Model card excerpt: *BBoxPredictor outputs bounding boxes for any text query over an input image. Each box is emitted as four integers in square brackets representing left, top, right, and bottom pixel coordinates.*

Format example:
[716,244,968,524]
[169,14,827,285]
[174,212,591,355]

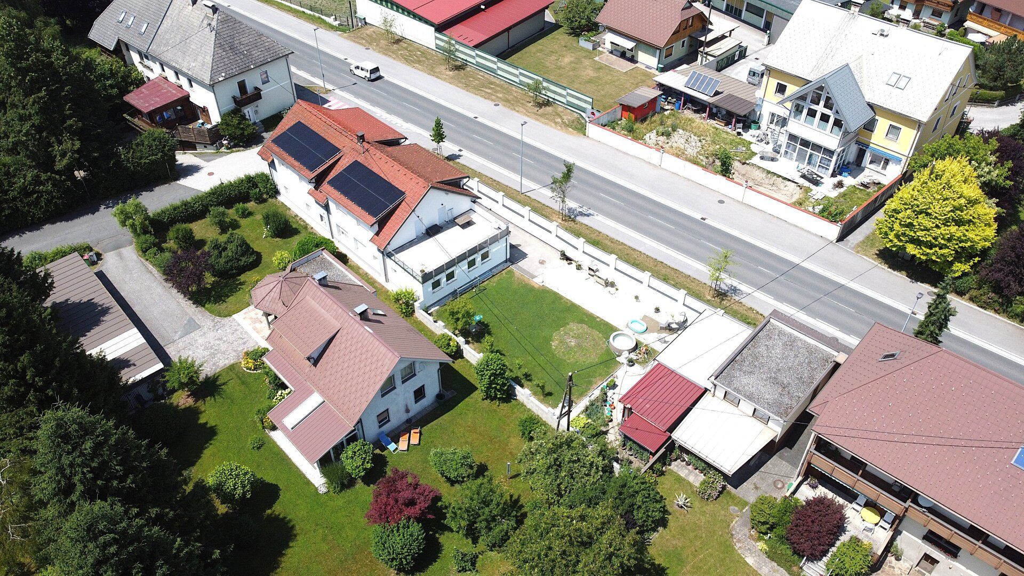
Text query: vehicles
[349,60,380,79]
[749,65,765,82]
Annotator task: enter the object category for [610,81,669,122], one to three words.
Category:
shed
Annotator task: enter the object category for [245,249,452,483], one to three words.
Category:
house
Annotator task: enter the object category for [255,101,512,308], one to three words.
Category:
house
